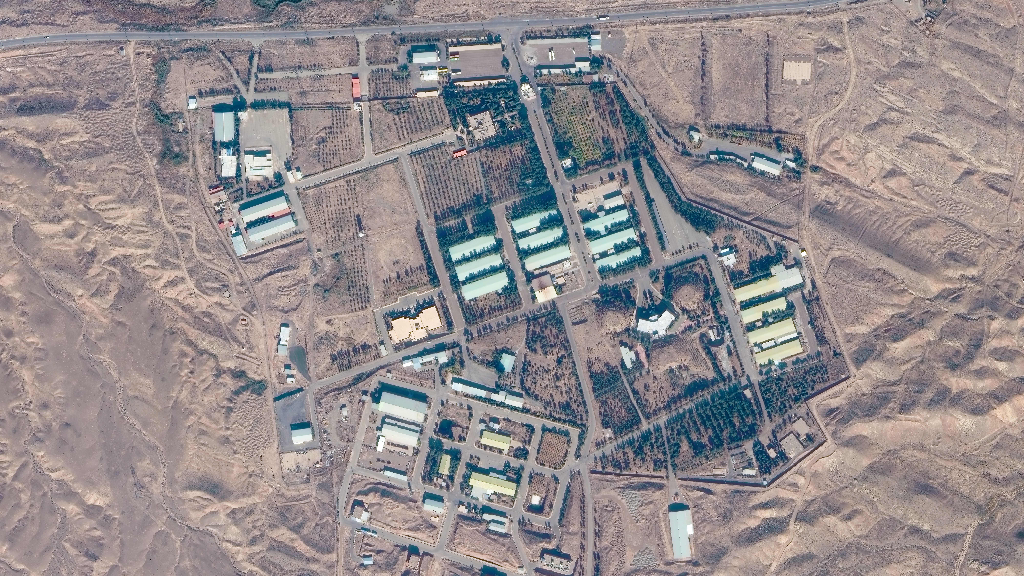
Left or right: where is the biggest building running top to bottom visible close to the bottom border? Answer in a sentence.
You can find the biggest building running top to bottom visible close to the bottom border on the right side of the picture.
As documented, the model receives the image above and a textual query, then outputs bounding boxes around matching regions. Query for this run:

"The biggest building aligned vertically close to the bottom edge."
[670,510,692,559]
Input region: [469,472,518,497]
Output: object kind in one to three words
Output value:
building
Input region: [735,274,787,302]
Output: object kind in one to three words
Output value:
building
